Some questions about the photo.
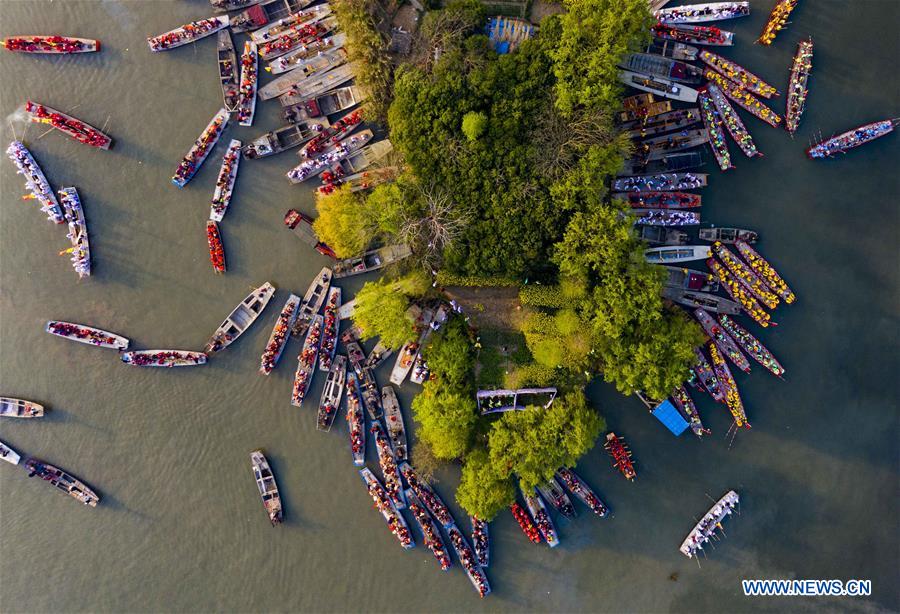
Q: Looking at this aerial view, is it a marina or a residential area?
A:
marina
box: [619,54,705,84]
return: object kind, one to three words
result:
boat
